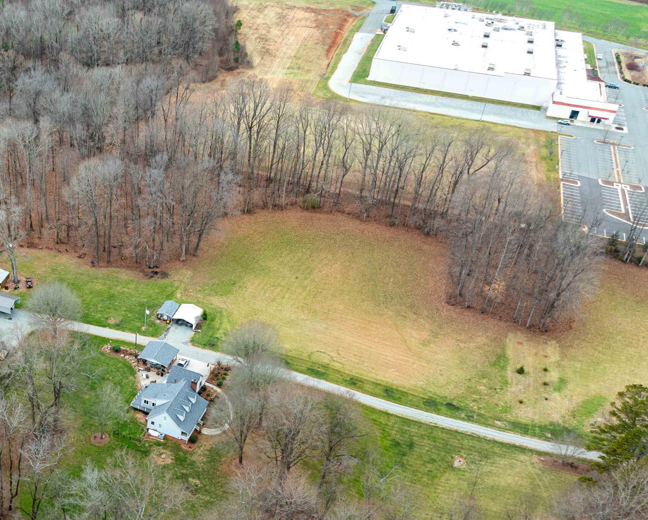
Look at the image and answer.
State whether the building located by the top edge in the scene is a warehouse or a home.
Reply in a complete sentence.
The building located by the top edge can be classified as a warehouse.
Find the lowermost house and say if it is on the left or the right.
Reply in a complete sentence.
You can find the lowermost house on the left side of the picture.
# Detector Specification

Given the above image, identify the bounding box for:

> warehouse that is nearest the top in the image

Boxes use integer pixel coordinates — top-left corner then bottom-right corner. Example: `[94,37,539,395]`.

[369,6,619,124]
